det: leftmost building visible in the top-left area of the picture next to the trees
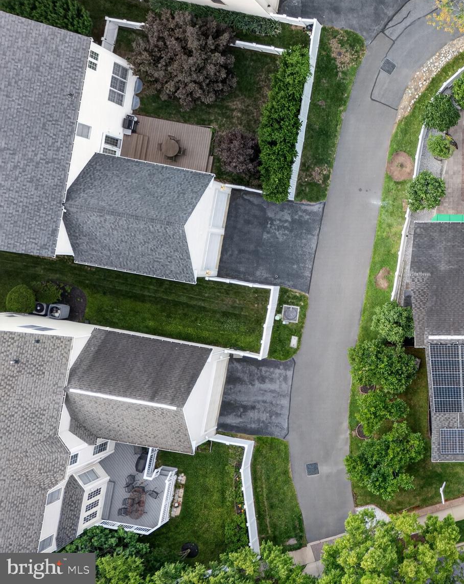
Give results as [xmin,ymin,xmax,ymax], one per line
[0,10,231,284]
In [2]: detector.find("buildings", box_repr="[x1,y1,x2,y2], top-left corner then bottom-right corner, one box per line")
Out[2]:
[0,323,228,569]
[0,10,231,284]
[188,0,280,16]
[401,220,464,463]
